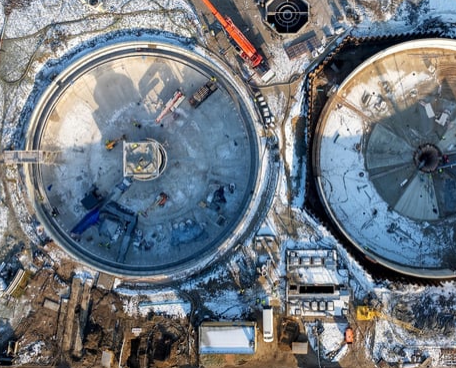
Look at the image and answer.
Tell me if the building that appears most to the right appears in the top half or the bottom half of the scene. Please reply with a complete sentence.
You can find the building that appears most to the right in the bottom half.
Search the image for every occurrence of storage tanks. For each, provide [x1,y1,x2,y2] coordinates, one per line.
[311,39,456,280]
[26,41,265,279]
